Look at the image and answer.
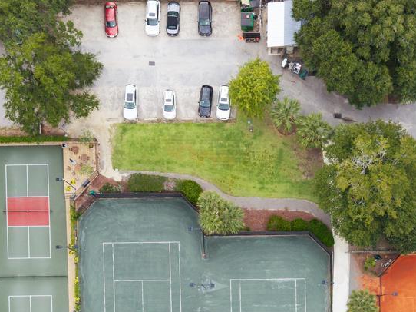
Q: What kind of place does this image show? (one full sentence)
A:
What you see here is a sports ground.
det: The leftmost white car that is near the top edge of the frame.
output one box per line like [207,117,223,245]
[145,1,162,36]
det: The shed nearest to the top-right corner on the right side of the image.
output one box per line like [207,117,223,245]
[267,0,305,56]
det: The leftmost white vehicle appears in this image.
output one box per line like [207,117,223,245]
[122,85,139,120]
